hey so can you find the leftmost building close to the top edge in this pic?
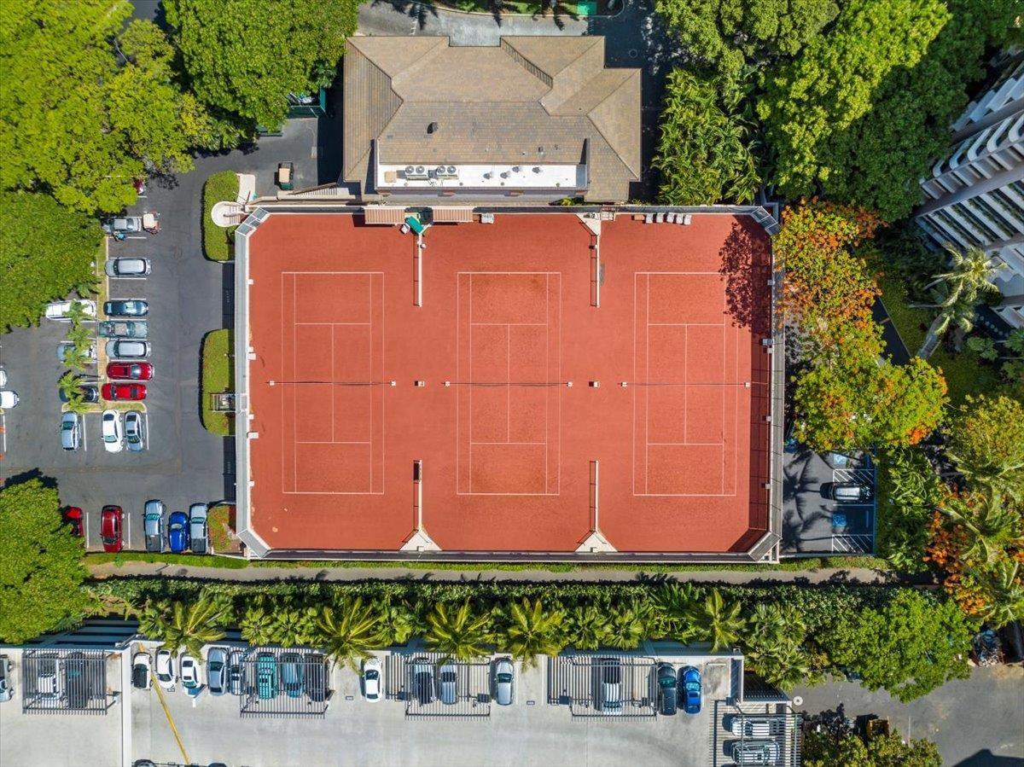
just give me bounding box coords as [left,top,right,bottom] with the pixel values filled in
[343,35,642,210]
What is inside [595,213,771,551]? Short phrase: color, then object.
red tennis court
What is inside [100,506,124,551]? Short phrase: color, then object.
red car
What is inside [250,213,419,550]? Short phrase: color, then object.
red tennis court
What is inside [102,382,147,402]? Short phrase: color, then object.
red car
